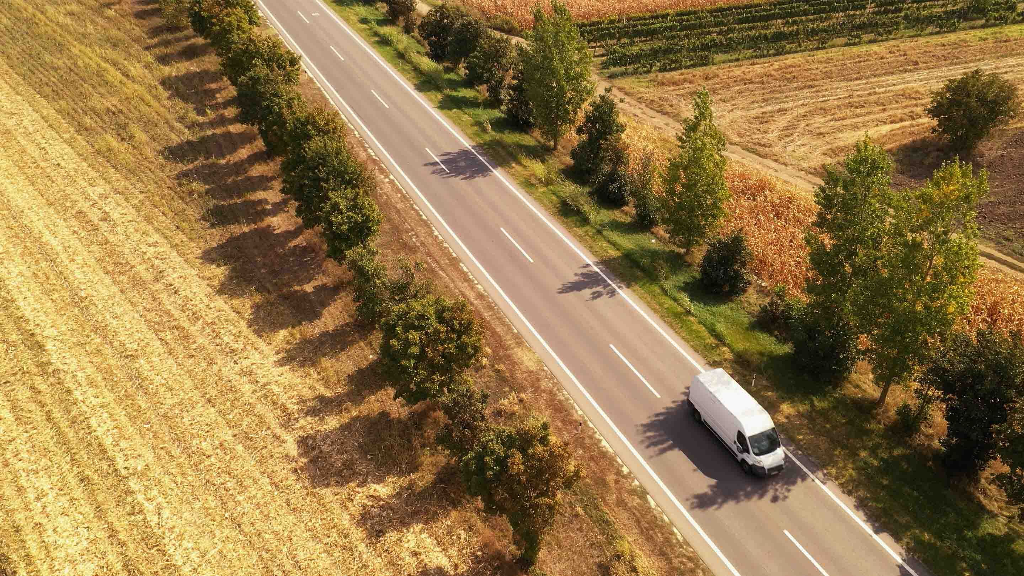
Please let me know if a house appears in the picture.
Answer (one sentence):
No, this view has no house in it.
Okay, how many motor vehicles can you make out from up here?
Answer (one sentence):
My tally gives 1 motor vehicle in this photo.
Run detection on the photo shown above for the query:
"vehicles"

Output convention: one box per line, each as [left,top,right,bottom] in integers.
[685,362,792,480]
